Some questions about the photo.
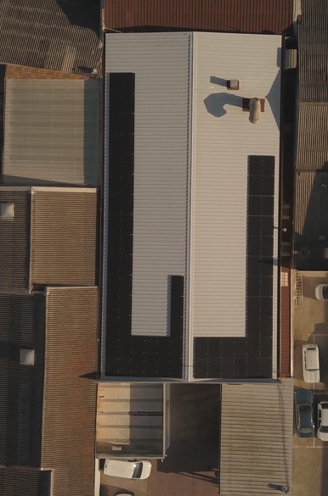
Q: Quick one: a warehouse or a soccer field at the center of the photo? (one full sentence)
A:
Visible at the center of the photo is a warehouse.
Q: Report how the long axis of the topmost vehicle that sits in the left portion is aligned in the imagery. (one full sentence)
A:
From this overhead view, the topmost vehicle that sits in the left portion appears to run from side to side.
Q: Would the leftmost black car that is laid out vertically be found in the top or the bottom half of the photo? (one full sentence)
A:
The leftmost black car that is laid out vertically is in the bottom half of the image.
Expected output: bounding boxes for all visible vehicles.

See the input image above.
[101,459,151,484]
[293,389,315,438]
[300,343,322,384]
[314,282,328,301]
[315,400,328,441]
